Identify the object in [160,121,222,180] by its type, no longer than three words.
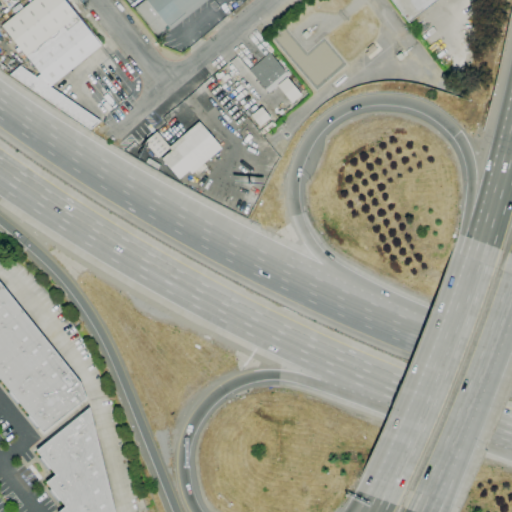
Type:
building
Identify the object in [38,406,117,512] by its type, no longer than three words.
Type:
building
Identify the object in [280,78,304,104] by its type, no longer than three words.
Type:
shed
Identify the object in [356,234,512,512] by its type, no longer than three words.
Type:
bridge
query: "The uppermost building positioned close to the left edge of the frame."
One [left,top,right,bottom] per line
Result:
[2,0,103,86]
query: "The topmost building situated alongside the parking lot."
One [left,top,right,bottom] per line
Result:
[0,279,89,434]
